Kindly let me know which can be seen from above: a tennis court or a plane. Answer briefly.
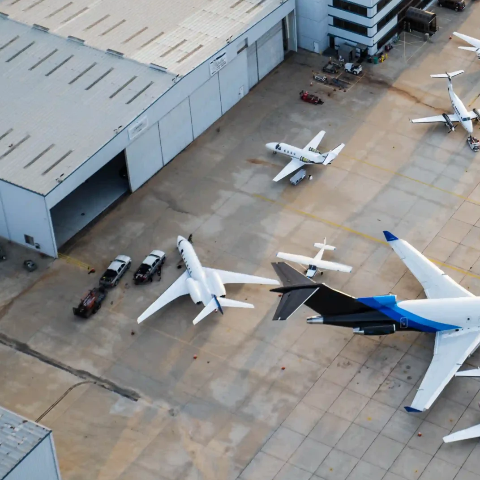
plane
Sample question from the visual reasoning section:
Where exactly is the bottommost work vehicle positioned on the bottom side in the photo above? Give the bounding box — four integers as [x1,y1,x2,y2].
[69,282,105,318]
